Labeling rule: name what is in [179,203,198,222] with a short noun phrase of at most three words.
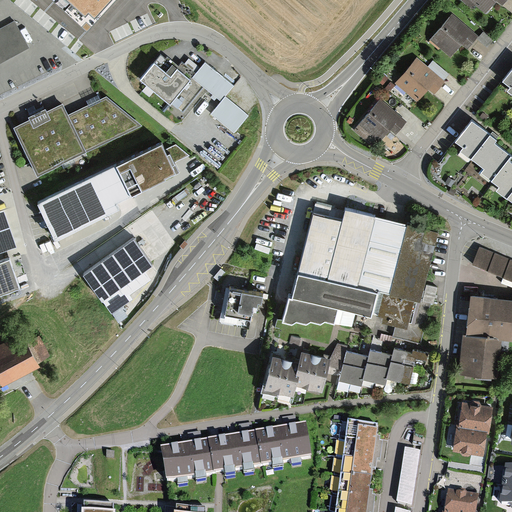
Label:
vehicle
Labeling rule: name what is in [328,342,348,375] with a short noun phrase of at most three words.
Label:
house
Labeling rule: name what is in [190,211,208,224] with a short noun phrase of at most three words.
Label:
vehicle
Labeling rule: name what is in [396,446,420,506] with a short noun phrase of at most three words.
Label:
building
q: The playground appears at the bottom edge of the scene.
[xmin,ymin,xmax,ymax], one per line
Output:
[130,460,164,494]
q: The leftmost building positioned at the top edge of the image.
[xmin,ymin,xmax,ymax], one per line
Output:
[0,22,30,65]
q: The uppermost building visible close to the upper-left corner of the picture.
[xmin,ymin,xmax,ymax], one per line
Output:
[57,0,120,30]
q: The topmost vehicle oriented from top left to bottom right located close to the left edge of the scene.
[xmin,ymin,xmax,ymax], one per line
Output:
[18,24,32,44]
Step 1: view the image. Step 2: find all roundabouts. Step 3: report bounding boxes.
[266,94,336,162]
